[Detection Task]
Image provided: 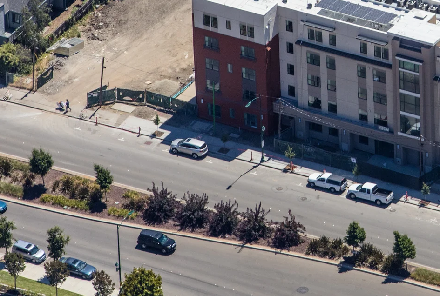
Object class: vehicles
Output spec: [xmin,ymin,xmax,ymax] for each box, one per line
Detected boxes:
[298,168,352,194]
[7,238,48,264]
[341,181,397,206]
[167,137,210,159]
[0,196,13,212]
[134,228,180,255]
[58,256,99,280]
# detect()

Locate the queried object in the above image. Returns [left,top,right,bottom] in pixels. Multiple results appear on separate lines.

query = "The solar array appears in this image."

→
[314,0,399,30]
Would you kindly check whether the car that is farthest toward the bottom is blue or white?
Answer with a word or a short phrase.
blue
